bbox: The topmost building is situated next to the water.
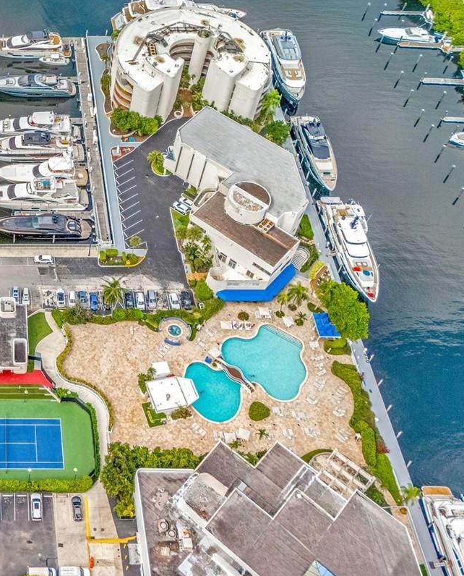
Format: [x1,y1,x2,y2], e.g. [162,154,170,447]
[111,8,274,132]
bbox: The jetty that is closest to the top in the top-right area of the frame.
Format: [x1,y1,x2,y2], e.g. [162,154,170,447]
[379,8,436,27]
